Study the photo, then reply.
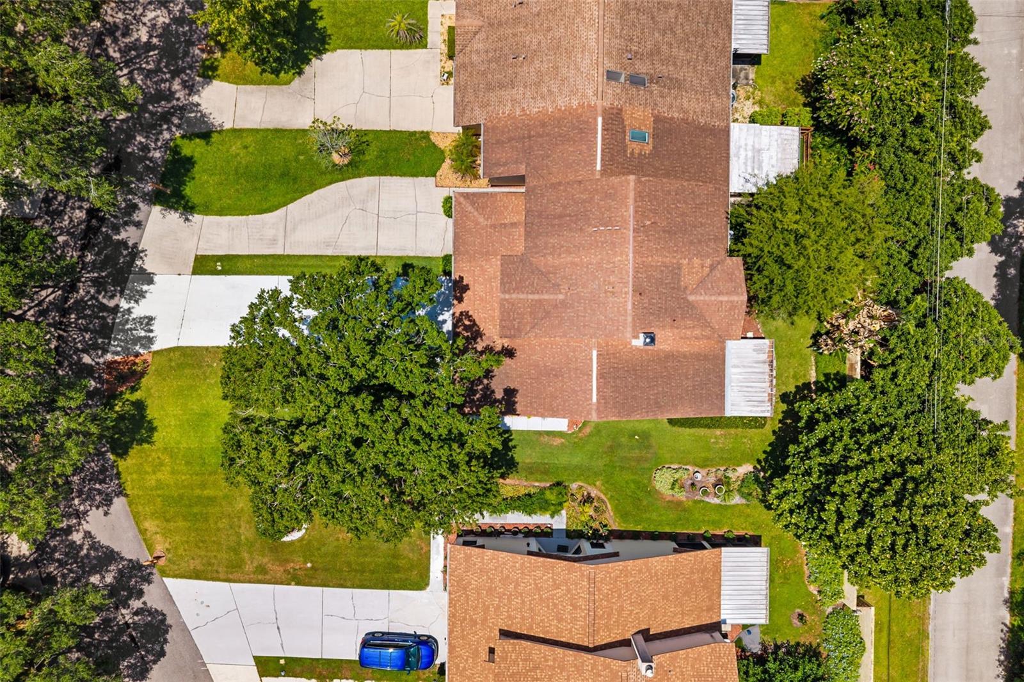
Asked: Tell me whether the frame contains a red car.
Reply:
No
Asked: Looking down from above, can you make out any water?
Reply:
No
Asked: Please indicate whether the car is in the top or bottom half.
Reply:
bottom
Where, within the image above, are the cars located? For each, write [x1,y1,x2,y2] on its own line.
[357,630,439,676]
